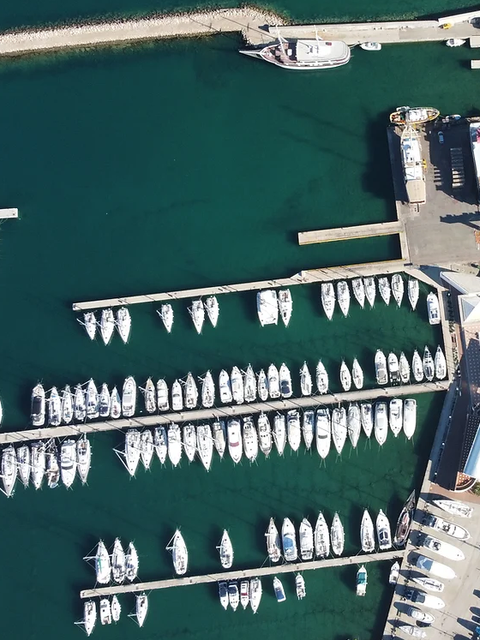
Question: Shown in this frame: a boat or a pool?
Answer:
boat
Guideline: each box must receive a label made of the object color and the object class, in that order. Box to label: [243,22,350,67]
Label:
white ship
